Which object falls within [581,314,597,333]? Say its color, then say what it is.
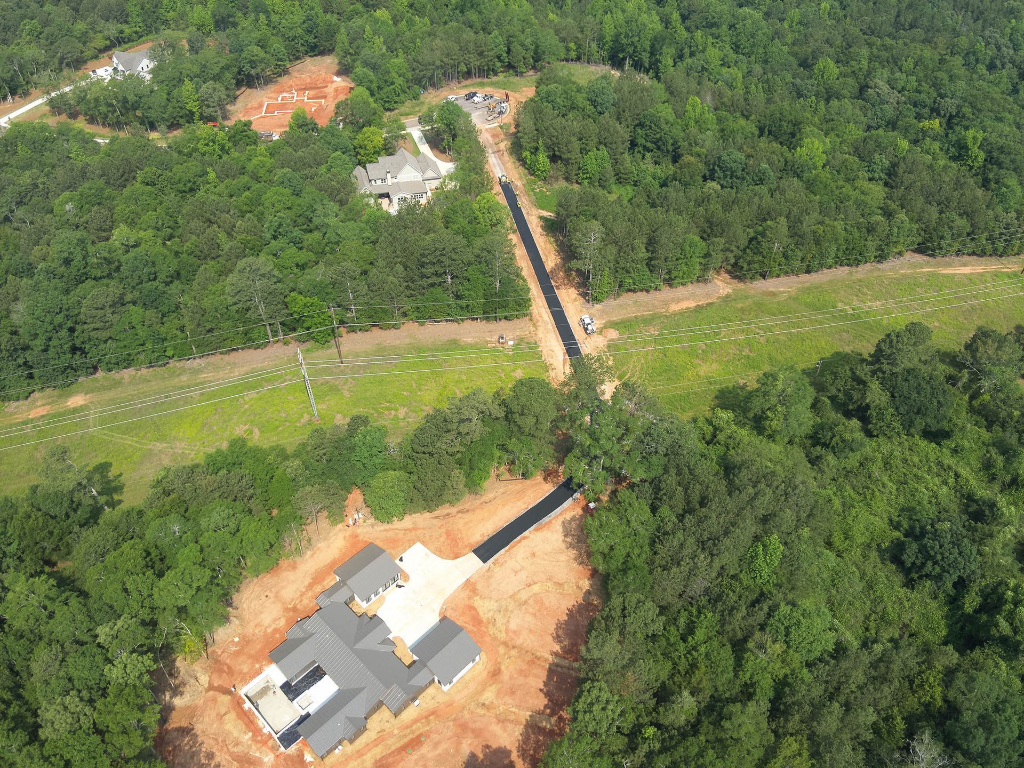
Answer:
white vehicle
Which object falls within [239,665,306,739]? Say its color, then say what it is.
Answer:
white swimming pool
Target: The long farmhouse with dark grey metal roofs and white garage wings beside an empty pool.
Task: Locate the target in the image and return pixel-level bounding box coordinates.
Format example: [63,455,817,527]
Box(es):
[267,542,483,761]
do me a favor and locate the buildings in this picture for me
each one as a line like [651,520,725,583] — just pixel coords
[267,542,483,761]
[360,148,442,206]
[113,42,165,78]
